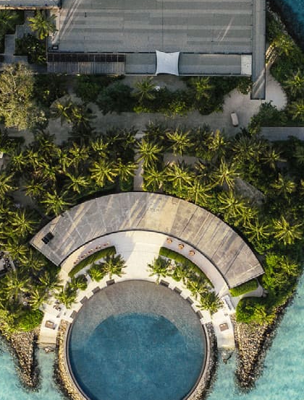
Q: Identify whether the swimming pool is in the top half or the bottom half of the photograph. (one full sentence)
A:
You can find the swimming pool in the bottom half.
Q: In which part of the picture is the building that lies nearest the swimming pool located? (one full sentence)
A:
The building that lies nearest the swimming pool sits in the center section of the image.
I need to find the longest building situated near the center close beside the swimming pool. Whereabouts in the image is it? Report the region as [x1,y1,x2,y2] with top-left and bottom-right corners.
[29,190,264,288]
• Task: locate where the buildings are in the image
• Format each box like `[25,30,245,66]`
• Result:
[49,0,267,101]
[29,190,264,288]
